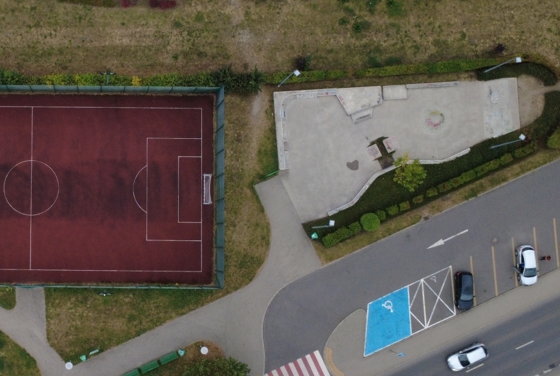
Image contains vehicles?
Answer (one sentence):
Yes, looking at the shot, I can spot a vehicle.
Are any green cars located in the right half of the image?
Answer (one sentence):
No, no green car appears in the right half of the image.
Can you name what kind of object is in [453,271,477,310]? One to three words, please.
car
